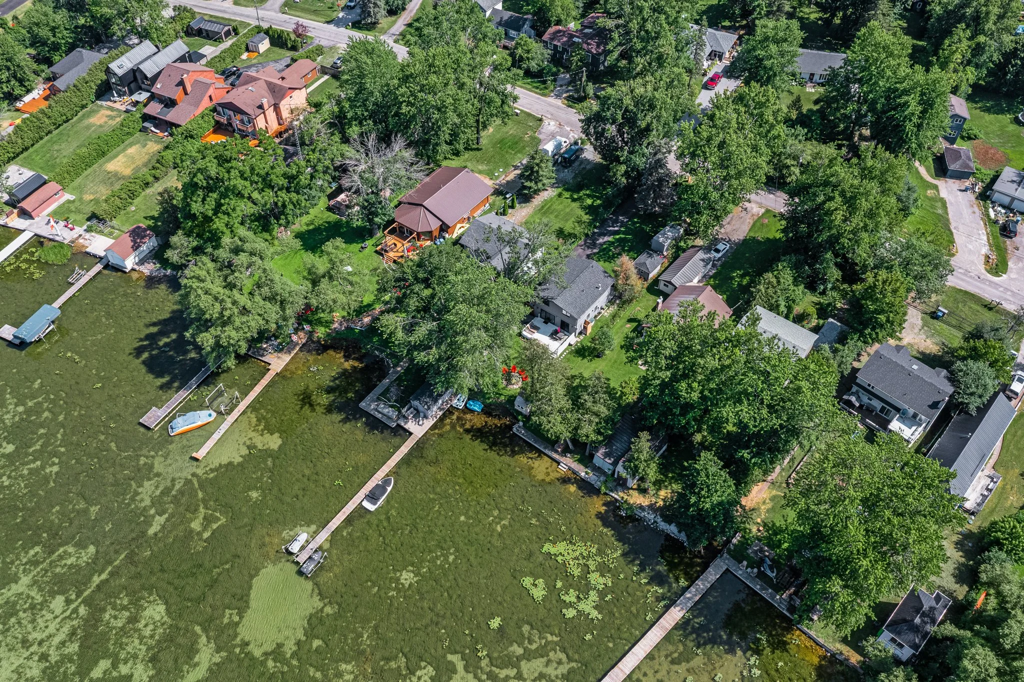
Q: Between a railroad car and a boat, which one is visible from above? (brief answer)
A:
boat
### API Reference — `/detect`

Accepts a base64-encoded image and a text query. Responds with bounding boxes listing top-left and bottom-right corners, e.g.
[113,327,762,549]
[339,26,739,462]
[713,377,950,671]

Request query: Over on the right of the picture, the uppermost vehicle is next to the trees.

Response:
[708,72,724,90]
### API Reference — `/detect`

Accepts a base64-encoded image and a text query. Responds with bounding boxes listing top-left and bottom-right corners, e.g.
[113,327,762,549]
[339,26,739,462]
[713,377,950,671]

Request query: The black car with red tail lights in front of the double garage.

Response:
[1002,221,1019,241]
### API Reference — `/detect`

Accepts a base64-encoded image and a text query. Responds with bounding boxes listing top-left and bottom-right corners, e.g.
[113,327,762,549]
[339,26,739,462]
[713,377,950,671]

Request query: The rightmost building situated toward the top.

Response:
[989,165,1024,213]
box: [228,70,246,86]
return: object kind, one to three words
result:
car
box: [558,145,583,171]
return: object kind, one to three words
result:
vehicle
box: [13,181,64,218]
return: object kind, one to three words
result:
shed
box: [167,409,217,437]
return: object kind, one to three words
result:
boat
